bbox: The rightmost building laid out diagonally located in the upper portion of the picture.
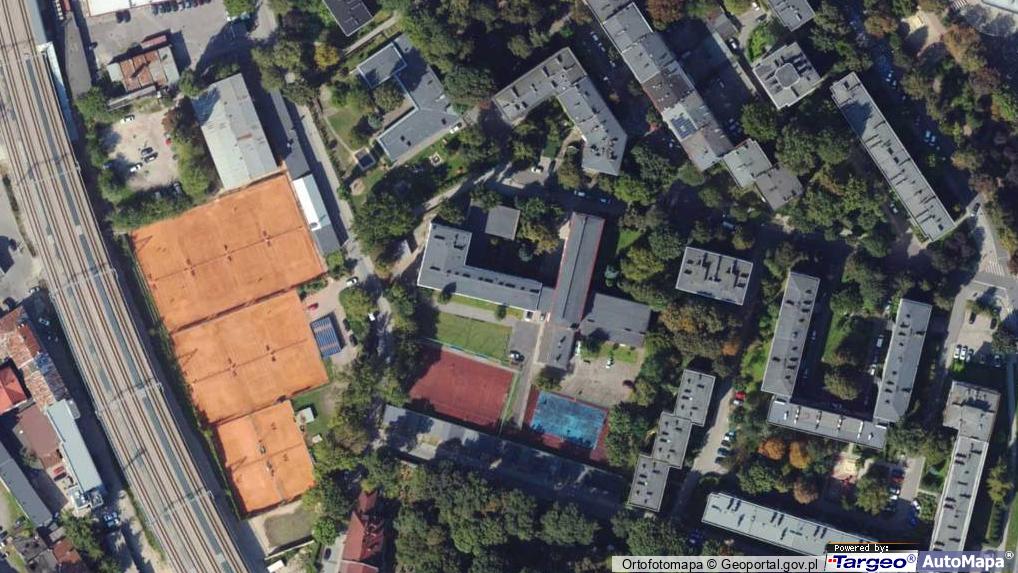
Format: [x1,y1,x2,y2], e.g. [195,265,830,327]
[829,72,955,243]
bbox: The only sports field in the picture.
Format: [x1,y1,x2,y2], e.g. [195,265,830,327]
[432,309,512,364]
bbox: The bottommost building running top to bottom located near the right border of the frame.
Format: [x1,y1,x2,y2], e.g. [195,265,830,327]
[923,437,988,573]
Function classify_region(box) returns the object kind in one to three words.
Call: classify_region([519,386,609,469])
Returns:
sports court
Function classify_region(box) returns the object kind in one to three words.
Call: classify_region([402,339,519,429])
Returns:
sports court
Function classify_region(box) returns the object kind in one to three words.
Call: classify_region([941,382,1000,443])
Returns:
building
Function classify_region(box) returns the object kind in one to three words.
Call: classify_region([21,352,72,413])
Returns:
house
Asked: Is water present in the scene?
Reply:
No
